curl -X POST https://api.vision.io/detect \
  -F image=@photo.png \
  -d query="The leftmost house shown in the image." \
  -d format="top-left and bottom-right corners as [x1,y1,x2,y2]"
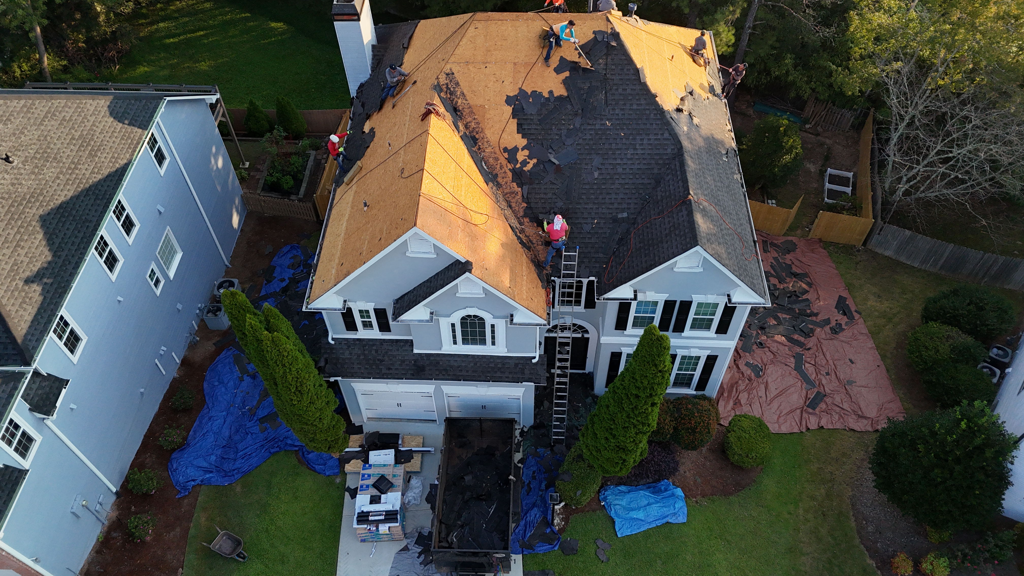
[0,92,246,576]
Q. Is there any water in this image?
No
